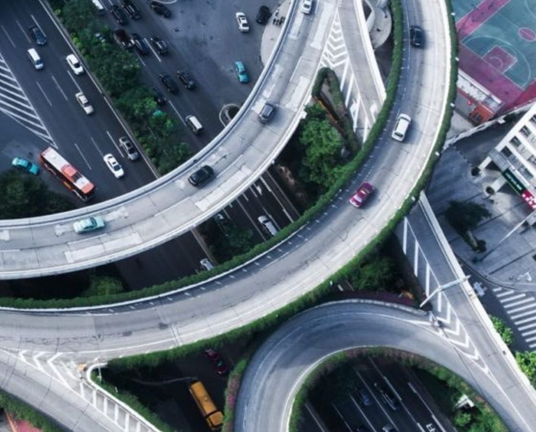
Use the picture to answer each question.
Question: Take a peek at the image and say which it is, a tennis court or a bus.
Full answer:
It is a bus that can be seen here.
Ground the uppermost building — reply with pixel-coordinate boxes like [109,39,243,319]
[454,69,506,128]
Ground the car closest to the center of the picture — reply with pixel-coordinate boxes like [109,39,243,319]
[255,210,278,237]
